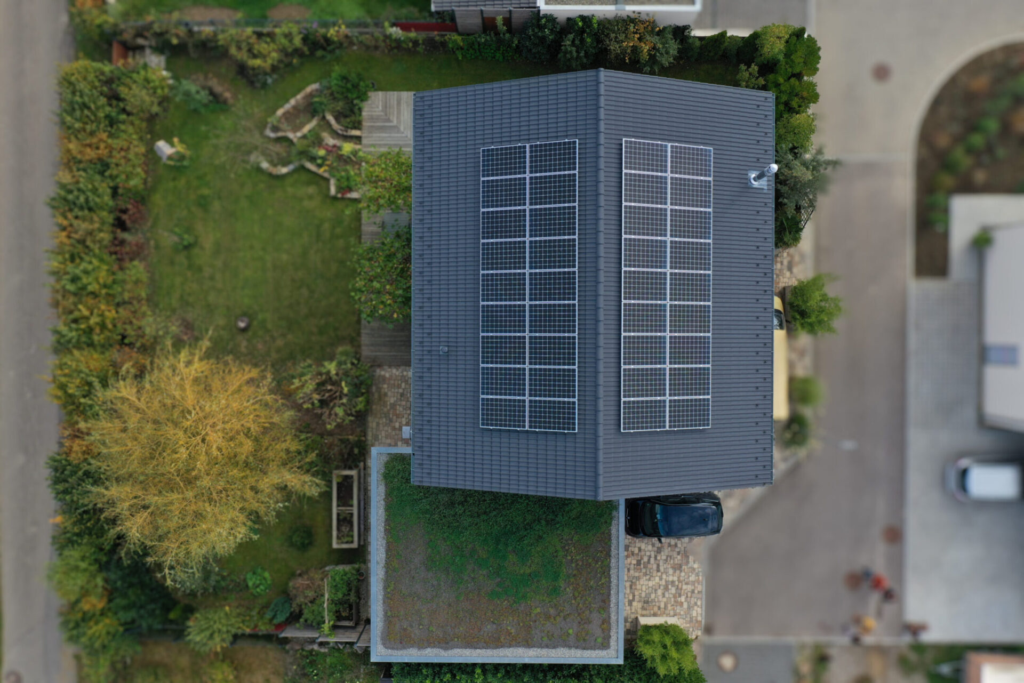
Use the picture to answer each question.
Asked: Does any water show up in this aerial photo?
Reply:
No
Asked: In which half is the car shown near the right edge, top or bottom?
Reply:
bottom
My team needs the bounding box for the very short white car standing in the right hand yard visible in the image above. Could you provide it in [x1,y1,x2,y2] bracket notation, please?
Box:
[944,454,1024,508]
